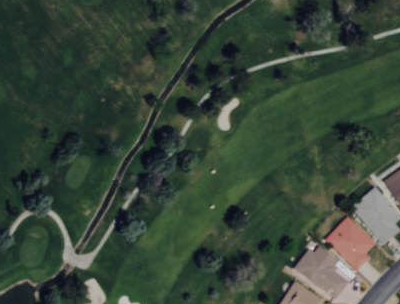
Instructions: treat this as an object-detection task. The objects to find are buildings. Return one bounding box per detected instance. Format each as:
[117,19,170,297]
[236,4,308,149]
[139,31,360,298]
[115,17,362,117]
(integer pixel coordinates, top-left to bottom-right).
[294,249,346,303]
[354,188,400,244]
[382,169,400,209]
[325,216,375,270]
